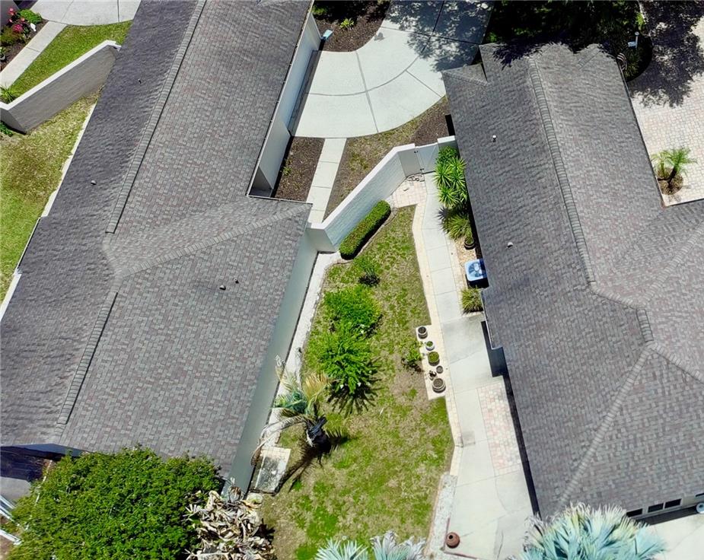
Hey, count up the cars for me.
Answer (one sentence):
Not a single car can be seen.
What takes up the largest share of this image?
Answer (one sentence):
The scene is dominated by buildings.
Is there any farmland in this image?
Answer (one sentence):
No, there is no farmland in the image.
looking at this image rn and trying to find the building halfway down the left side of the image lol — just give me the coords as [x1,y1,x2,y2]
[0,0,340,491]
